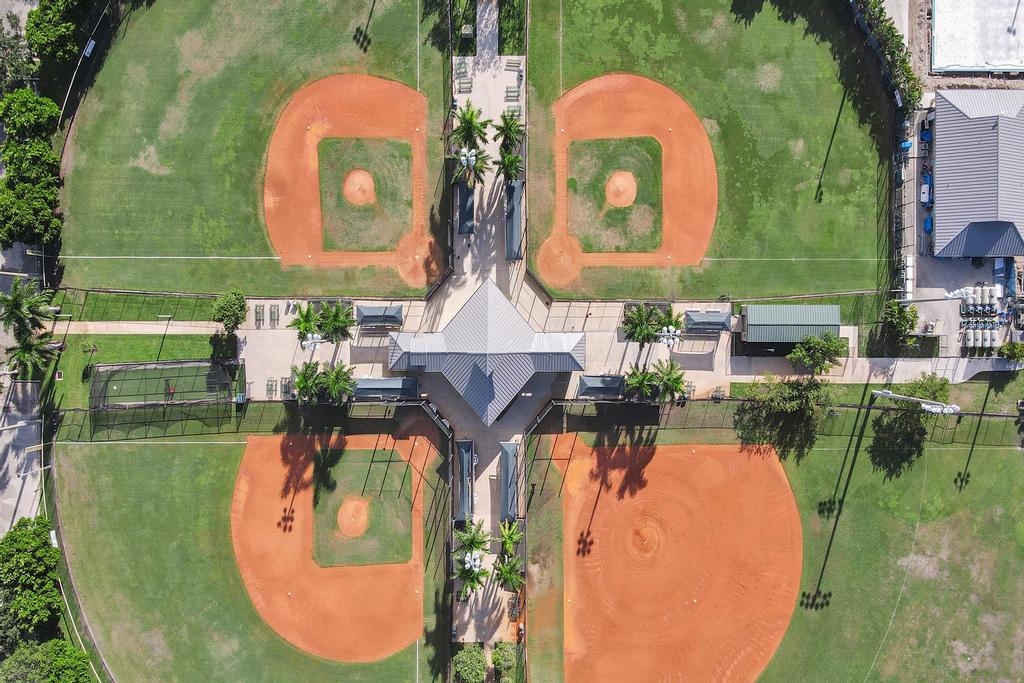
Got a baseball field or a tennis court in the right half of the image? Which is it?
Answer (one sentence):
The one visible in the right half of the image is a baseball field.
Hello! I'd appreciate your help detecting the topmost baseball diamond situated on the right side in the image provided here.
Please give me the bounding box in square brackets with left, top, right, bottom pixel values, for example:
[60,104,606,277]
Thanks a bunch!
[528,0,888,299]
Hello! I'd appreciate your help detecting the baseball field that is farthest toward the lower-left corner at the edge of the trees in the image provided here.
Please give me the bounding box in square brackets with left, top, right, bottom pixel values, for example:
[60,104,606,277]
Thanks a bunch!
[54,404,449,683]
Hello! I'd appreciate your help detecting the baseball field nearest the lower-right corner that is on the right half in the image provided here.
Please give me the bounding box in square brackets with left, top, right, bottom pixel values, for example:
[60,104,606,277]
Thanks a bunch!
[527,402,1024,683]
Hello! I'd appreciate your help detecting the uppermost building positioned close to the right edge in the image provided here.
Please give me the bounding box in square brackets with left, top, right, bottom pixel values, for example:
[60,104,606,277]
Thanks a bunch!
[931,90,1024,257]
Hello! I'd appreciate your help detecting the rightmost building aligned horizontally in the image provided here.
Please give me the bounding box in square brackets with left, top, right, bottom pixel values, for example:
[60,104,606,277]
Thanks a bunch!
[742,304,843,343]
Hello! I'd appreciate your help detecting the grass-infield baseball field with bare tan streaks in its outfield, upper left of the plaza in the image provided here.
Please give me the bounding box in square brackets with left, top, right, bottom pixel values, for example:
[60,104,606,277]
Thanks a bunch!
[59,0,448,297]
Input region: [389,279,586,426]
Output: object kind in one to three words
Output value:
building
